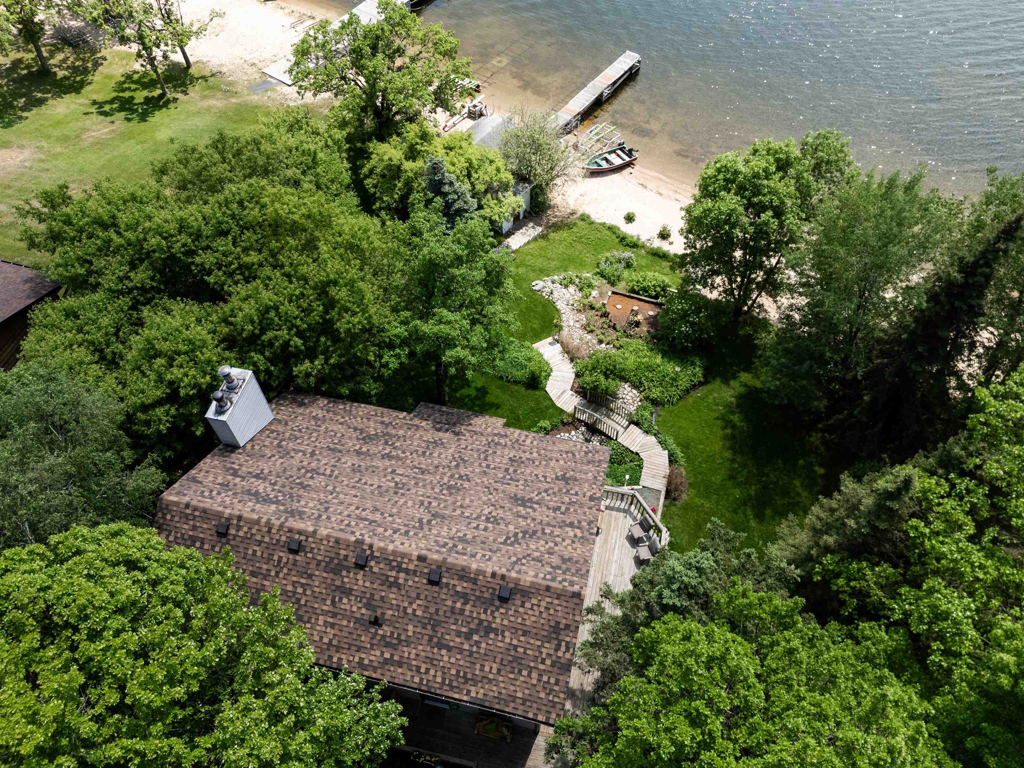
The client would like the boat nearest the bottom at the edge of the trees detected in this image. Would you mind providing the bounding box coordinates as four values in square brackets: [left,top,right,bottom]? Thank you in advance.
[586,144,641,170]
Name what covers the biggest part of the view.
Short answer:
trees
